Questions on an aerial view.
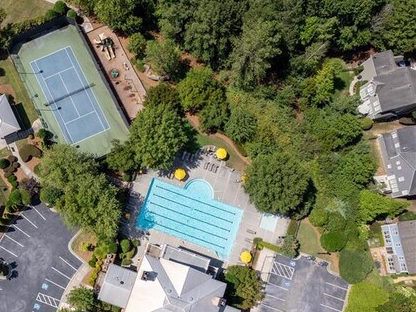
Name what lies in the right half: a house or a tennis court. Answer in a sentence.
You can see a house in the right half.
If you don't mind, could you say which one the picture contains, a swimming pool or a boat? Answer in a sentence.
This aerial view contains a swimming pool.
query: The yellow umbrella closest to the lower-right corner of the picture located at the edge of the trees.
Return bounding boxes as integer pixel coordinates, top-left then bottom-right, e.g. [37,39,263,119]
[239,250,252,263]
